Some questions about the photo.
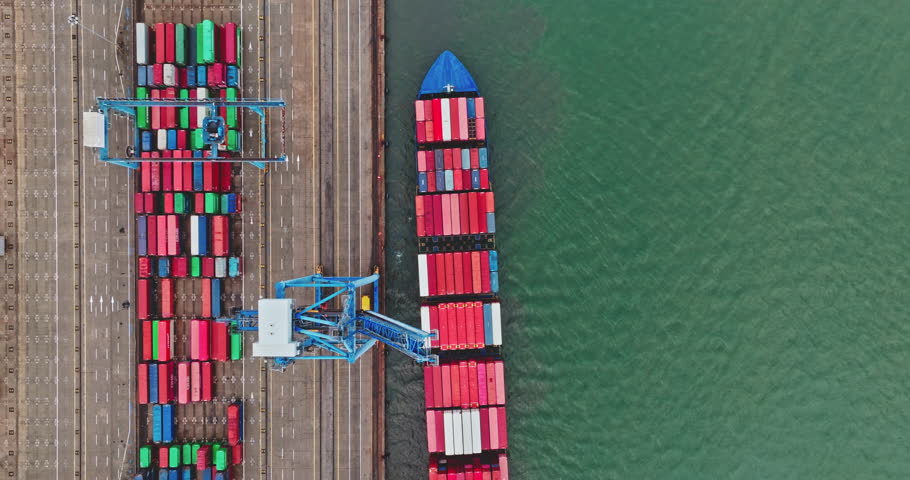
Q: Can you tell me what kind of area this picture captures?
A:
port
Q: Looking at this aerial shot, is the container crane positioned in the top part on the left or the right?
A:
left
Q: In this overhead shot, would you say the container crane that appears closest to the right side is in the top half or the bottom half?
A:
bottom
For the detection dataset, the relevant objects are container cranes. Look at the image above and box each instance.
[215,262,443,369]
[81,99,289,179]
